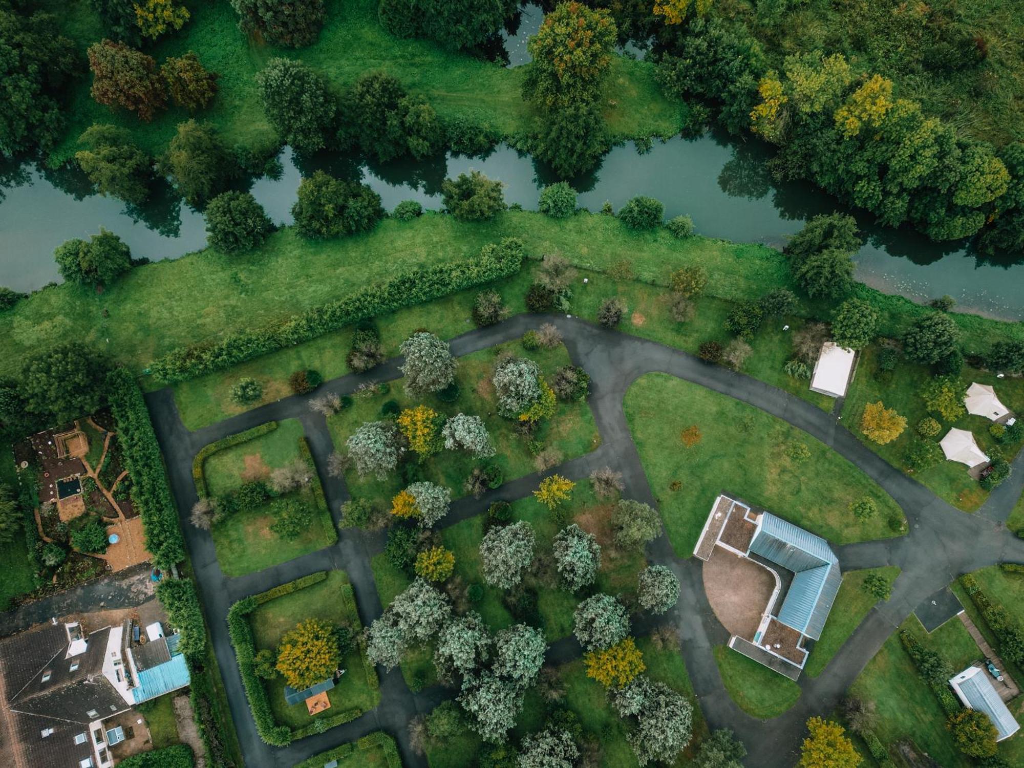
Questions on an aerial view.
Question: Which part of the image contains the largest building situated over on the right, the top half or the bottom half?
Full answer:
The largest building situated over on the right is in the bottom half of the image.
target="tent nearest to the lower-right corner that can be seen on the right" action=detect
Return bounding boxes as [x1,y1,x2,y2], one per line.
[937,427,988,468]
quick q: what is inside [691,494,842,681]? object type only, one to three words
building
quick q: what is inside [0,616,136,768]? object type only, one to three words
house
